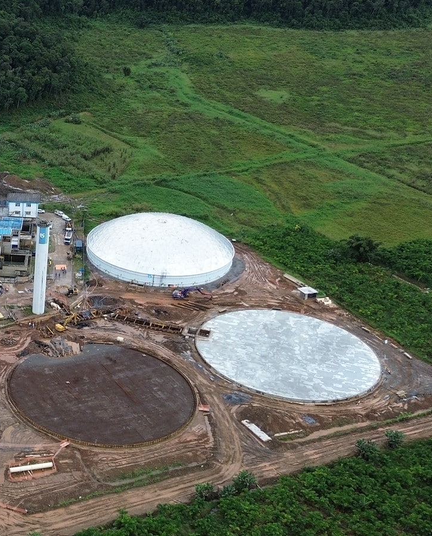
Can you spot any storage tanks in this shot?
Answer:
Yes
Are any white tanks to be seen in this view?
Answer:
Yes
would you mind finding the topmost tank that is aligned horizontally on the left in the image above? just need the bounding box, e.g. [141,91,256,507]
[87,211,235,286]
